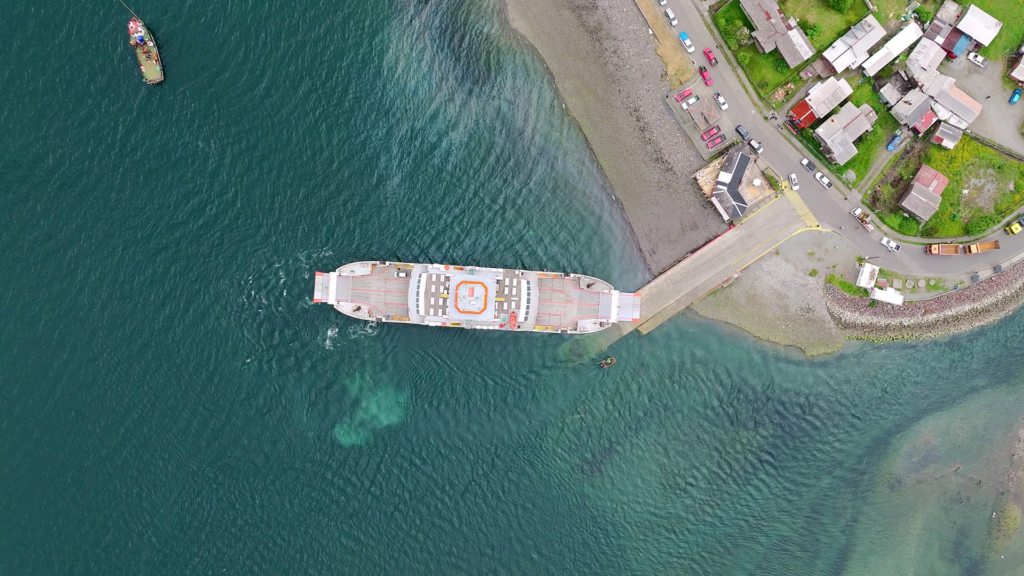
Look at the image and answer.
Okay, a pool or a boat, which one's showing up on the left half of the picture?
boat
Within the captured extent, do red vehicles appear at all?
Yes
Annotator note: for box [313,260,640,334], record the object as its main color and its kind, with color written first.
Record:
white ship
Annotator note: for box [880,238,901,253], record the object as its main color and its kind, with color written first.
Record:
white vehicle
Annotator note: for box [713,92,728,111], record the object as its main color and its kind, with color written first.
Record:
white vehicle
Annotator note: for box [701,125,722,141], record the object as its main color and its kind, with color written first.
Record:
red vehicle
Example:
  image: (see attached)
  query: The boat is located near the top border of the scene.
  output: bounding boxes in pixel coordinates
[128,17,165,84]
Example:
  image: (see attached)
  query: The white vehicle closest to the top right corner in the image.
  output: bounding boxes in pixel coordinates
[967,54,989,68]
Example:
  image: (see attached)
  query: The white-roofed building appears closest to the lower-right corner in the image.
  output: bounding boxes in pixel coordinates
[867,287,904,305]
